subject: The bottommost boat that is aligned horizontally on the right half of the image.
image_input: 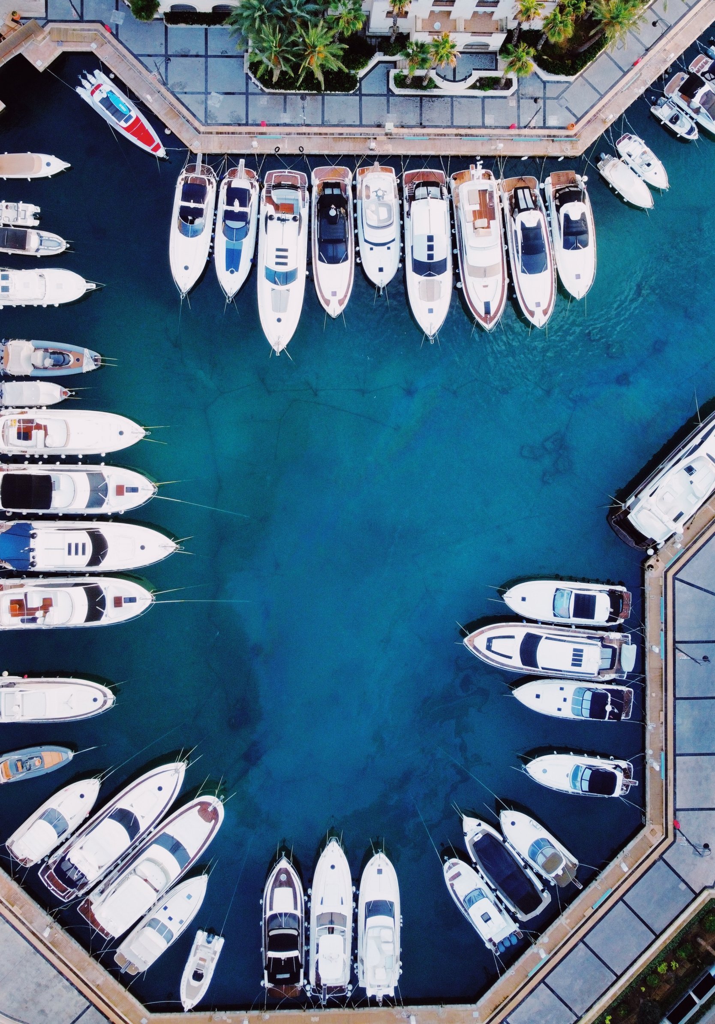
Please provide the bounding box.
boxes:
[519,752,638,800]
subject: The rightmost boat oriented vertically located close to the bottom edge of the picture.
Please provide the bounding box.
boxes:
[358,848,402,1005]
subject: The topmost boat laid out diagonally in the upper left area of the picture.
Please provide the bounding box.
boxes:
[74,66,170,159]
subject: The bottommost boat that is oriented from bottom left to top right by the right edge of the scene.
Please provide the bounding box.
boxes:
[600,405,715,556]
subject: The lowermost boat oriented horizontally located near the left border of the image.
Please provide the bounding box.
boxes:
[0,747,76,784]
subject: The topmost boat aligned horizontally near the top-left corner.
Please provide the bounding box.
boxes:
[0,152,75,179]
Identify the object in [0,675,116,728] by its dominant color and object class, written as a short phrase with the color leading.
white boat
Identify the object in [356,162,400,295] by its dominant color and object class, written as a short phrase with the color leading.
white boat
